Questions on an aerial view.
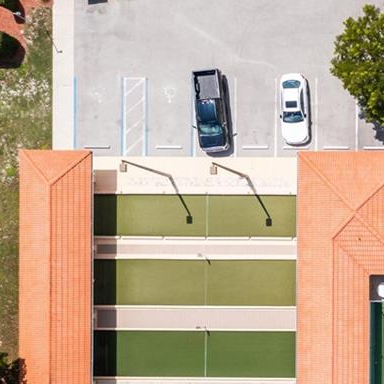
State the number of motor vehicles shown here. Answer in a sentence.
In total, 2 motor vehicles can be seen.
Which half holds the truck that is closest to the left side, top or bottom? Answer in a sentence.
It is in the top half that the truck that is closest to the left side appears.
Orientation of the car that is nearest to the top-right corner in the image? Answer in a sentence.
In this picture, the car that is nearest to the top-right corner lies up and down.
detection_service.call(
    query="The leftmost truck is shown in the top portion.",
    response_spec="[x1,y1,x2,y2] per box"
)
[191,67,232,152]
